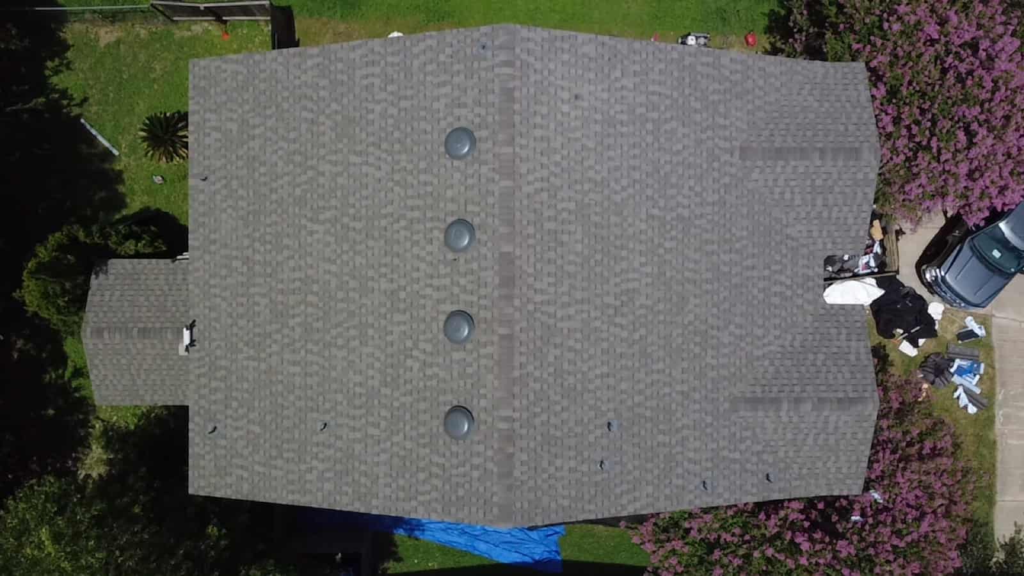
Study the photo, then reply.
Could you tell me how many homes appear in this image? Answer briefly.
1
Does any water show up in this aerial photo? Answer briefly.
No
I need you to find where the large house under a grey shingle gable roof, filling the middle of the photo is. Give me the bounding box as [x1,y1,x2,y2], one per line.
[82,23,882,529]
